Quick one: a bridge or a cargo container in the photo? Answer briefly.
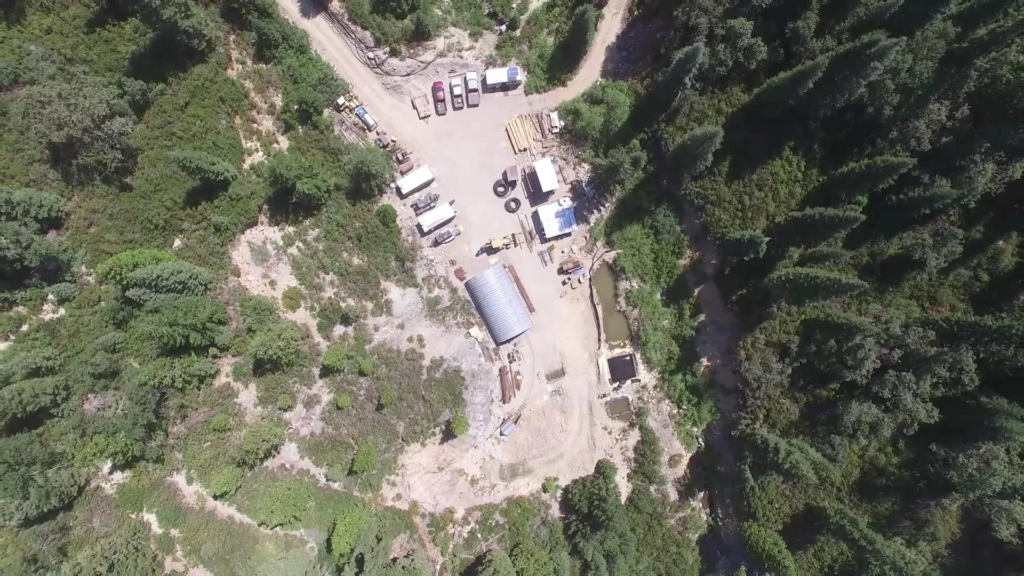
cargo container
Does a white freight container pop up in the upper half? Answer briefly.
Yes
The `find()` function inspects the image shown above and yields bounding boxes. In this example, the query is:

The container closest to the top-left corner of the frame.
[397,165,436,197]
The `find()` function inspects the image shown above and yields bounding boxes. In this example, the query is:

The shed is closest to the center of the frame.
[465,265,534,344]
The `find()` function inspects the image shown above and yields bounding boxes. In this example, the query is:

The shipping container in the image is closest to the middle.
[418,197,462,234]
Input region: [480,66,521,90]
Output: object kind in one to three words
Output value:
vehicle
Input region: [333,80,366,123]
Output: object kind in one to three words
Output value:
work vehicle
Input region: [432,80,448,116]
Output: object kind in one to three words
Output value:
vehicle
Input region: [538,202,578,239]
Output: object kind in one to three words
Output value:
shed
